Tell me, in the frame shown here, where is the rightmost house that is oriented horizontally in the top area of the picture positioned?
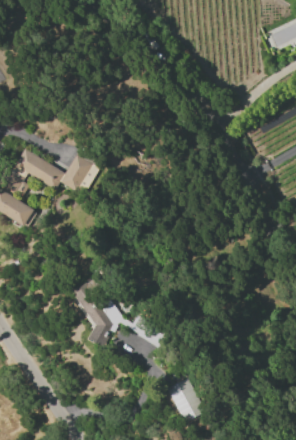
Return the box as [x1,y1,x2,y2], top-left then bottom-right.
[22,150,100,190]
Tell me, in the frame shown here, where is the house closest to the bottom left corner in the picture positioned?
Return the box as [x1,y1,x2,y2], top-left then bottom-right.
[74,290,124,346]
